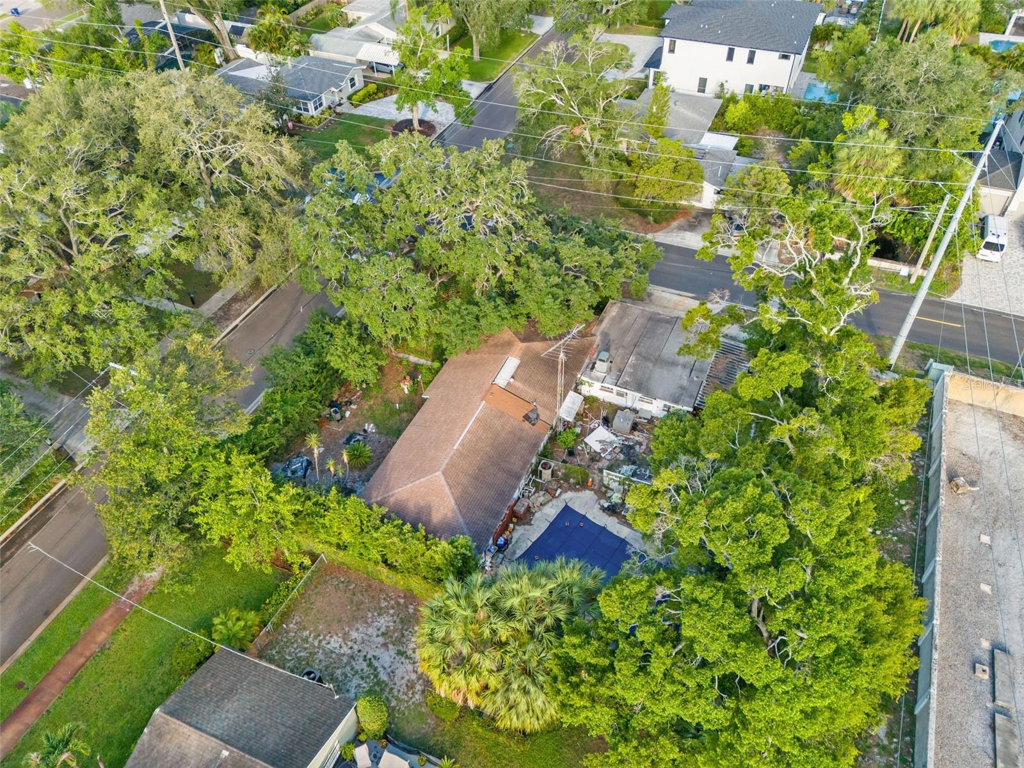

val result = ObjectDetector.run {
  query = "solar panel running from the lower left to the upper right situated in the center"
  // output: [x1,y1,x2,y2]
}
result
[493,356,520,386]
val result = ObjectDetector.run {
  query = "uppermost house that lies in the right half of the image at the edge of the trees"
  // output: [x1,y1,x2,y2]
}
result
[641,4,816,100]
